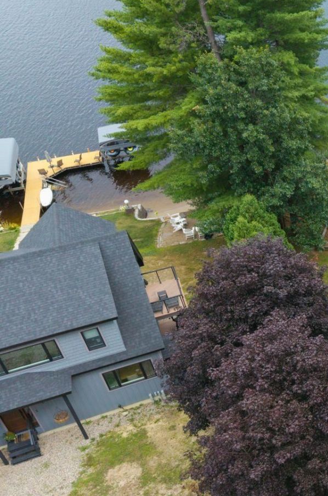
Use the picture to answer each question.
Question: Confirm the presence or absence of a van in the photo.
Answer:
No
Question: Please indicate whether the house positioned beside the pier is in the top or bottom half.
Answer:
bottom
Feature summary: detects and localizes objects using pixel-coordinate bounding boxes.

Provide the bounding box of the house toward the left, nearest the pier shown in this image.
[0,201,204,464]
